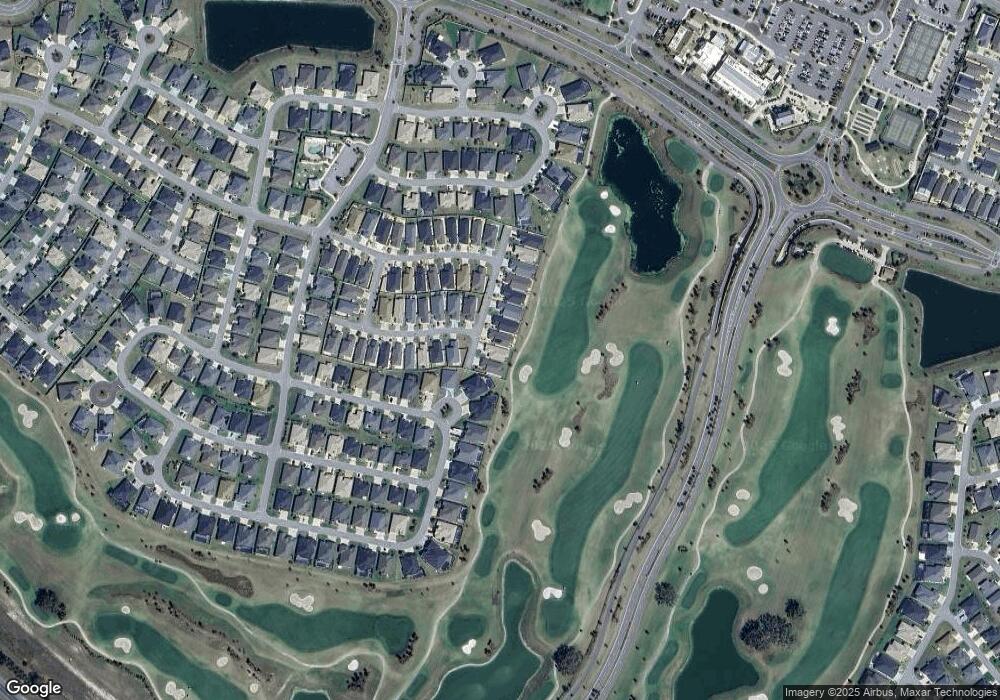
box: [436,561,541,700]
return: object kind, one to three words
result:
pond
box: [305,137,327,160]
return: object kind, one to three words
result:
swimming pool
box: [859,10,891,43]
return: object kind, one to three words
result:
roundabout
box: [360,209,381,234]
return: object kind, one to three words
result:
house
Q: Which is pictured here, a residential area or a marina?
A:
residential area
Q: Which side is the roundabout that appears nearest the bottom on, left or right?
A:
right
